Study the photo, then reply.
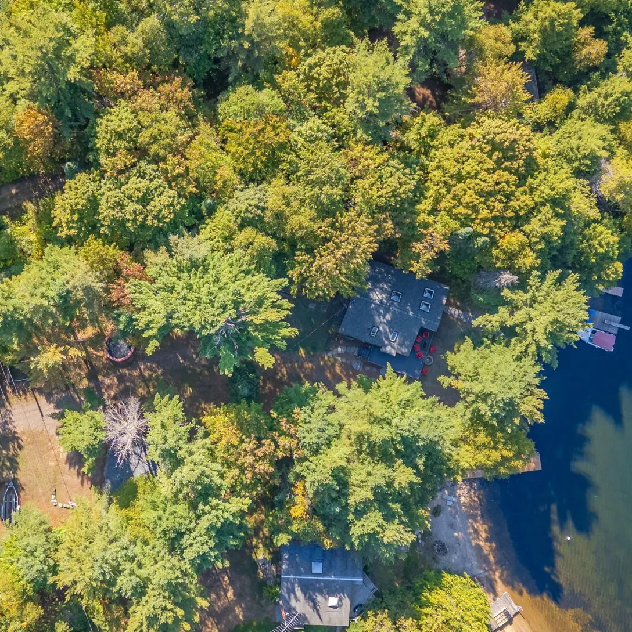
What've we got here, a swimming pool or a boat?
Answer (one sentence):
Looking from above, you can make out a boat.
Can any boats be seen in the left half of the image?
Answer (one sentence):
No, there's no boat to be seen in the left half of the image.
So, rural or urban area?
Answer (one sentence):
The land in this view is best described as rural.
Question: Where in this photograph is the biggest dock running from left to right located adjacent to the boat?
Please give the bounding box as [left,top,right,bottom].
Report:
[576,306,622,333]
